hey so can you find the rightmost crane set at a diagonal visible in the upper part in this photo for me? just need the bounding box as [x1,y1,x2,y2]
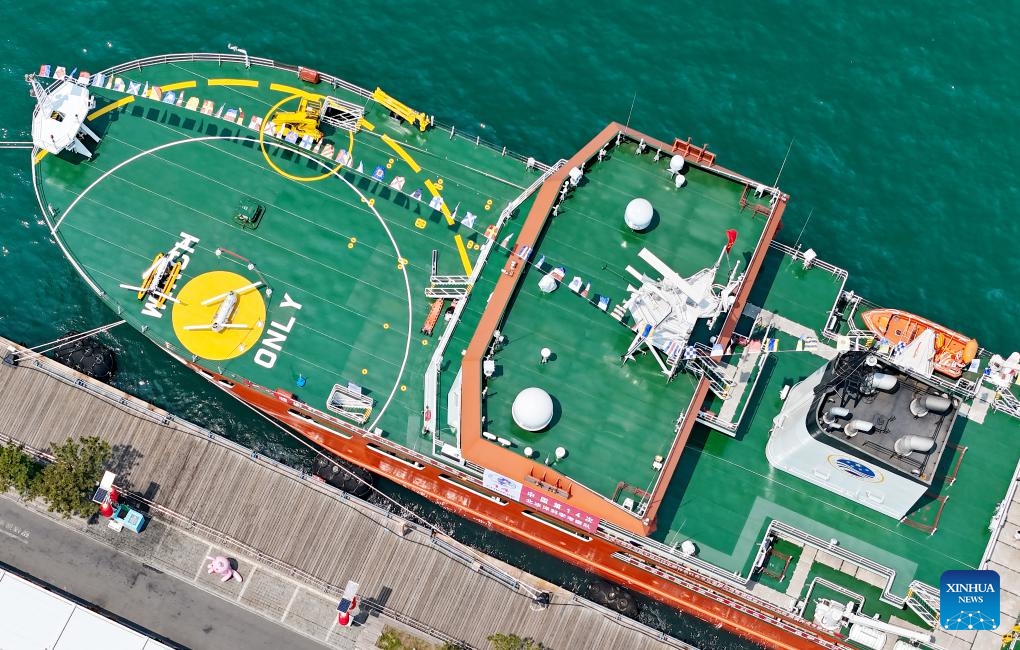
[368,85,431,133]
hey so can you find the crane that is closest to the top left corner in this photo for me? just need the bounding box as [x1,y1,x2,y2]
[271,91,329,145]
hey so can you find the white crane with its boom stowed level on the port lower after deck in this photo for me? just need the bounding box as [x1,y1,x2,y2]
[812,586,940,650]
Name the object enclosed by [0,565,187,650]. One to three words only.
shed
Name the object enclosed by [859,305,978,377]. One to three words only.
boat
